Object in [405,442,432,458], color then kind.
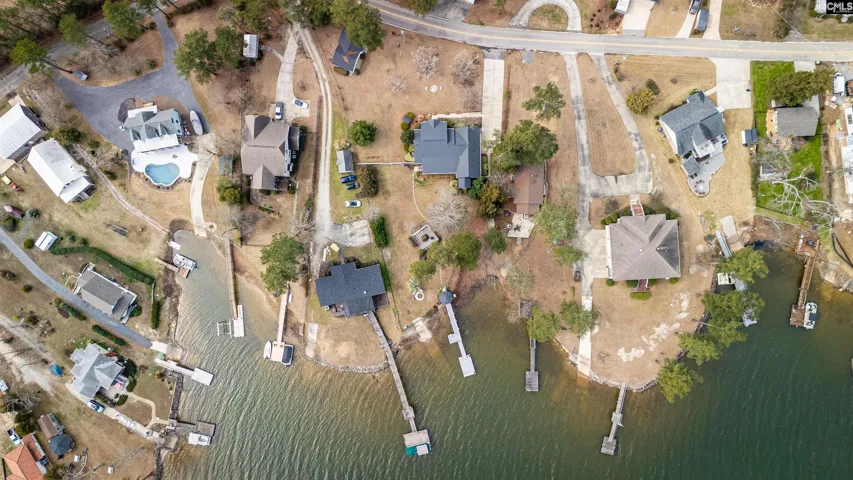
white boat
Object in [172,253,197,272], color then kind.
white boat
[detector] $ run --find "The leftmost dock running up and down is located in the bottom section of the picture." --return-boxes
[225,238,245,339]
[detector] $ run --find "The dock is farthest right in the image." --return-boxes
[789,238,819,326]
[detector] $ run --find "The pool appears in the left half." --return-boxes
[143,162,181,186]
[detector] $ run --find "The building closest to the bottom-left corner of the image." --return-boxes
[2,432,53,480]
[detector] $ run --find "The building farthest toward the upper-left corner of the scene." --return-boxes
[0,97,48,177]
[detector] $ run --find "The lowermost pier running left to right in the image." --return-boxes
[168,420,217,438]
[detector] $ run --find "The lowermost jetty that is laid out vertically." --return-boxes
[600,382,627,456]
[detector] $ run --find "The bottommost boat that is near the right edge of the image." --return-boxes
[803,303,818,330]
